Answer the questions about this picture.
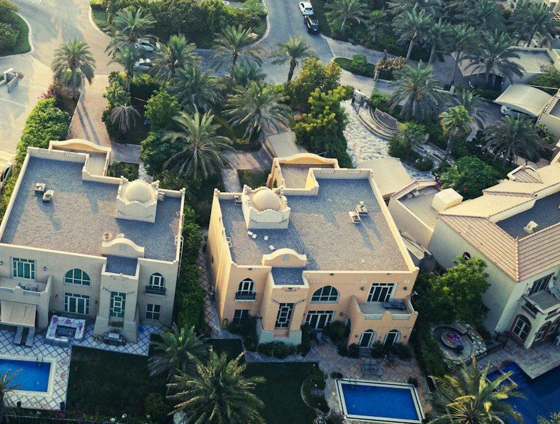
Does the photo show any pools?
Yes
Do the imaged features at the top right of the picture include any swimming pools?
No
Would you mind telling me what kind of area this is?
residential area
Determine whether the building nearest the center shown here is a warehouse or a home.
home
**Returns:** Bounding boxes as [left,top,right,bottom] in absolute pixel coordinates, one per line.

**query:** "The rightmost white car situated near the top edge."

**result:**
[299,0,316,15]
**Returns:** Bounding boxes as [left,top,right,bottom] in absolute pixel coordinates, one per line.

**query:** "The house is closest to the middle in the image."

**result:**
[211,165,423,368]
